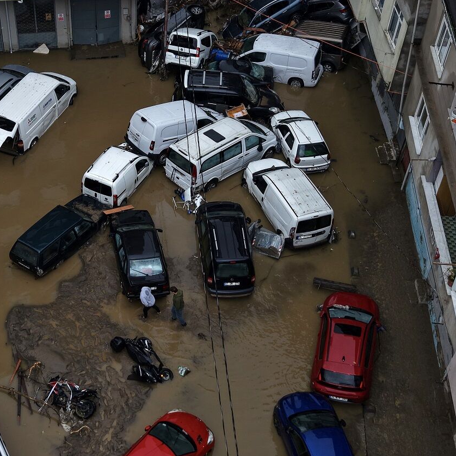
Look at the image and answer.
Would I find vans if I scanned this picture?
Yes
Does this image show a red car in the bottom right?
Yes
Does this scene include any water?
Yes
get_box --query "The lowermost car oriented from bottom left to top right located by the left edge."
[15,197,111,278]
